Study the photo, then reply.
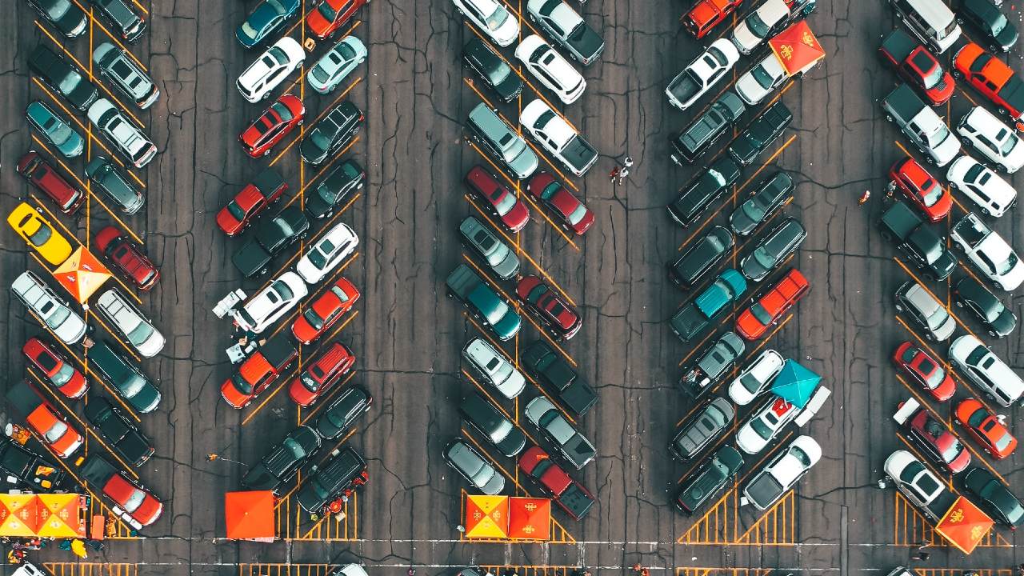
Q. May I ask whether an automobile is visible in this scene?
Yes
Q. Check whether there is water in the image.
No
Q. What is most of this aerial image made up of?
paved ground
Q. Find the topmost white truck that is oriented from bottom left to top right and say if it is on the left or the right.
right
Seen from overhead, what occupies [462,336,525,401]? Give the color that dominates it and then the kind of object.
white car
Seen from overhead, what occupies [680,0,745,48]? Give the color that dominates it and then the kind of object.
red truck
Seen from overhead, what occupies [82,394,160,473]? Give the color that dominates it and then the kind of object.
black truck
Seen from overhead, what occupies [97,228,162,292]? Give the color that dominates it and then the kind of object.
red car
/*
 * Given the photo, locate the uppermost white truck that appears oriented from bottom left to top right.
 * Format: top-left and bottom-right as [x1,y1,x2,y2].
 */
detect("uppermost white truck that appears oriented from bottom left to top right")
[730,0,805,59]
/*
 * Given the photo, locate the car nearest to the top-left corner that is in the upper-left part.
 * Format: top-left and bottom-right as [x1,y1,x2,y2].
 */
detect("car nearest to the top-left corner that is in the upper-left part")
[30,0,89,40]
